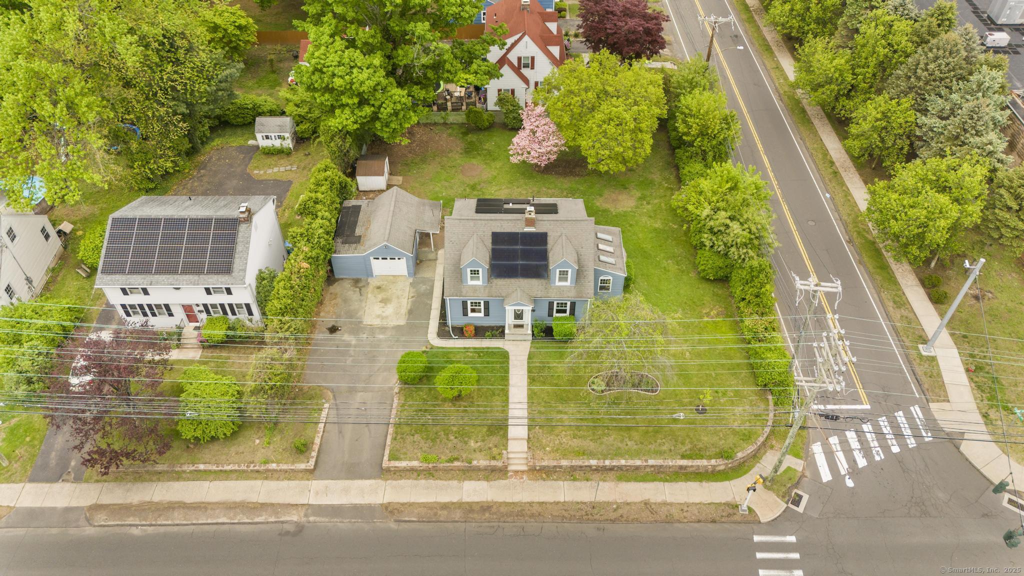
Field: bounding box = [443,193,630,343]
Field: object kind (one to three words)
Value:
house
